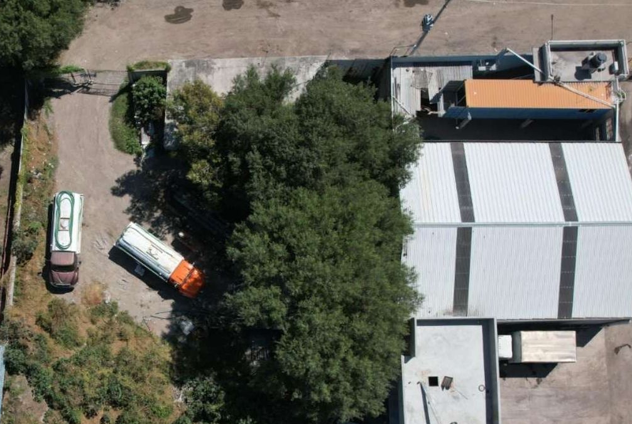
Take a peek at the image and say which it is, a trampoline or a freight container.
freight container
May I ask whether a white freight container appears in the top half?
No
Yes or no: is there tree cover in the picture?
Yes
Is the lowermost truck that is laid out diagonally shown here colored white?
Yes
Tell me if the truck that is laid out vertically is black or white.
white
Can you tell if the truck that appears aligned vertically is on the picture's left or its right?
left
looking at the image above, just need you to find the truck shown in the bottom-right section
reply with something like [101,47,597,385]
[498,332,577,363]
